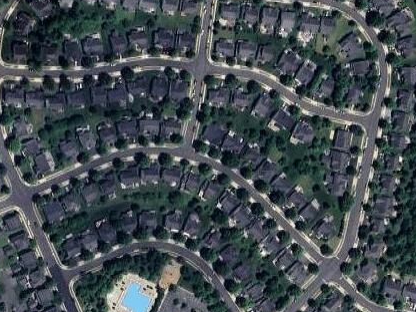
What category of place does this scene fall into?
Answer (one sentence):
What you see here is a residential area.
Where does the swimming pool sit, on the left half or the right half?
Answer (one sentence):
The swimming pool is on the left side of the image.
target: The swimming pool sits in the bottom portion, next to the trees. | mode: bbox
[107,273,157,312]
